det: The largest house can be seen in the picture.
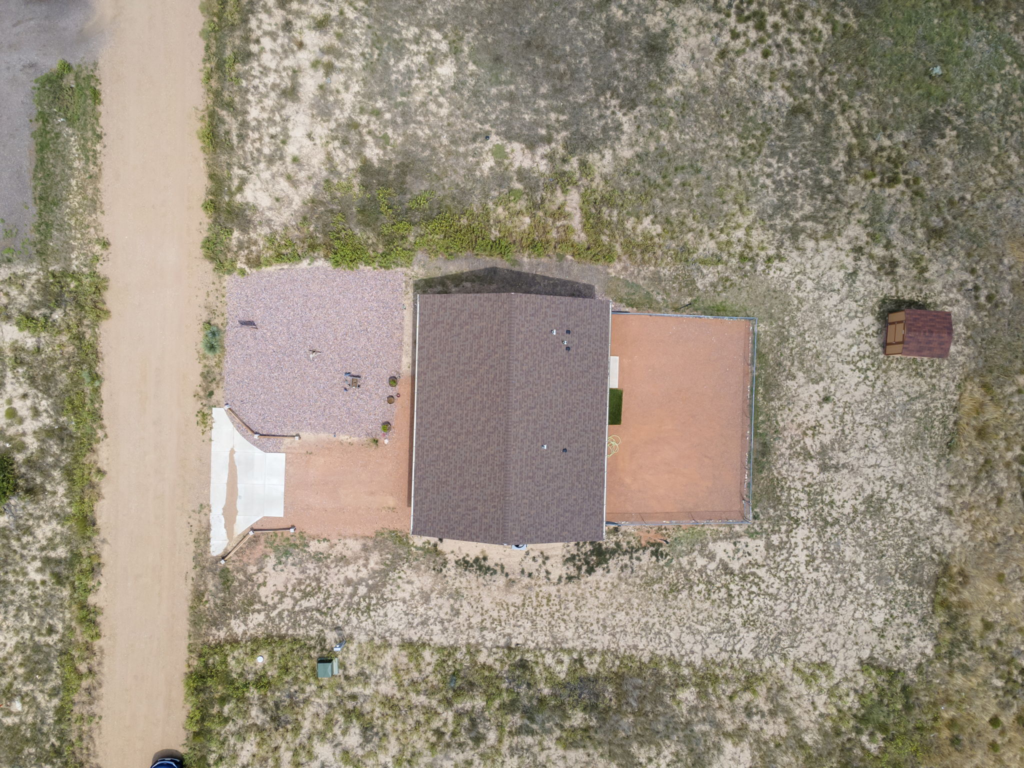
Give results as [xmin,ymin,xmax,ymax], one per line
[410,292,621,546]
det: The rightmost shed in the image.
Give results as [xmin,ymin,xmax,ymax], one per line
[886,310,957,356]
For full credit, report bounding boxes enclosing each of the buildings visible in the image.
[886,310,957,356]
[410,292,621,546]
